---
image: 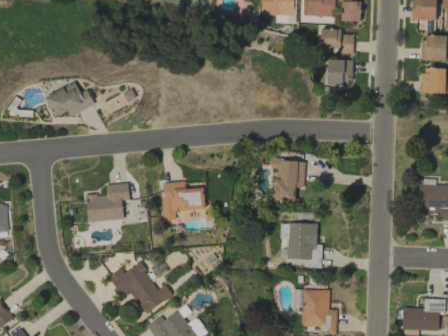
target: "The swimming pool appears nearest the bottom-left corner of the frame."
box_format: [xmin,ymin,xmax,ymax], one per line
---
[92,228,114,244]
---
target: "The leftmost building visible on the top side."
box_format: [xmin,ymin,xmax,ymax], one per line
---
[6,95,34,118]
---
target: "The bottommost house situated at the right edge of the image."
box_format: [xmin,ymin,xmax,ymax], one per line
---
[403,299,446,336]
